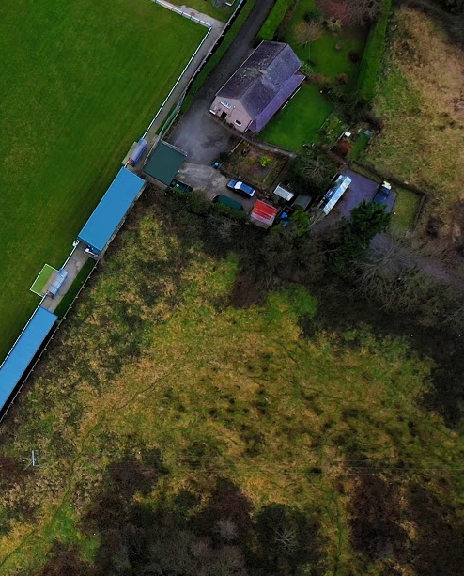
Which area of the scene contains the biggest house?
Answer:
top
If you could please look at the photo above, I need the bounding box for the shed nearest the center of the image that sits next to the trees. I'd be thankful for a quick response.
[250,201,278,228]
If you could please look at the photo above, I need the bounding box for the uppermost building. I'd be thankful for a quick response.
[210,40,307,136]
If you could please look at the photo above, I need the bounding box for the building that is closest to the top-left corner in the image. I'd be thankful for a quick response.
[141,140,188,192]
